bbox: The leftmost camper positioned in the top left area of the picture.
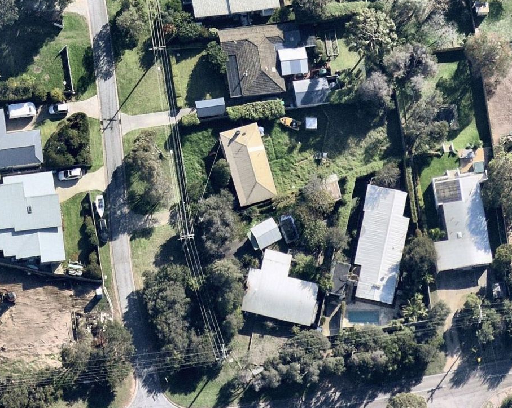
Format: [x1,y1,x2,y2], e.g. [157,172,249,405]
[8,103,40,117]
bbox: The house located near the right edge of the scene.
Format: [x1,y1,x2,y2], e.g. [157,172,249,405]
[432,148,493,274]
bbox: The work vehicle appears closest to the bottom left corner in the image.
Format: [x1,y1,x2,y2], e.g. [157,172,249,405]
[0,290,19,304]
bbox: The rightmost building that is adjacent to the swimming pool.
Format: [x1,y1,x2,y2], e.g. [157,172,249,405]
[331,184,409,304]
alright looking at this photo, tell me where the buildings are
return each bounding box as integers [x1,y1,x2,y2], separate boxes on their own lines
[432,148,493,274]
[182,0,279,25]
[219,123,276,207]
[219,22,316,104]
[242,249,323,326]
[196,97,226,119]
[250,218,282,251]
[0,108,44,170]
[292,77,329,109]
[328,173,342,203]
[331,184,409,304]
[0,171,67,265]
